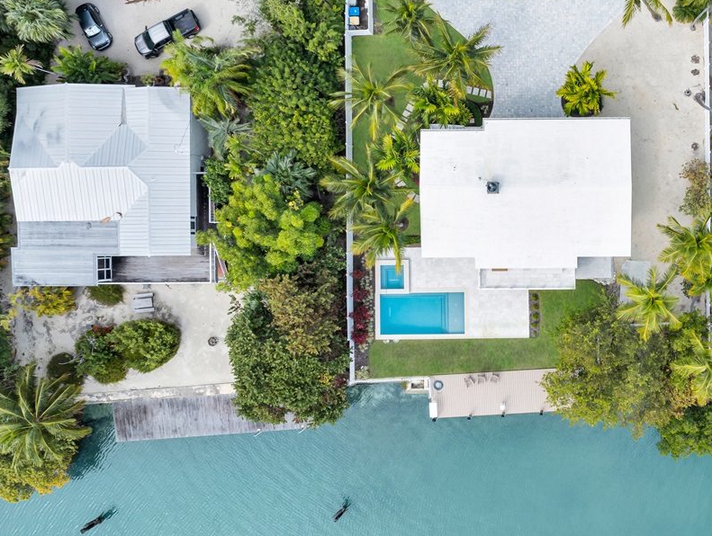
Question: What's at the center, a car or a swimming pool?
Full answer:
The feature located at the center is a swimming pool.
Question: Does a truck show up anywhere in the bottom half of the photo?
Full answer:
No, in the bottom half of the photo there is no truck.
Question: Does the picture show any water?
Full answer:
Yes, water shows up in the scene.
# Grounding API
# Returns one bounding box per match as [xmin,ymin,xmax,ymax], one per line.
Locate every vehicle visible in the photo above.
[132,3,203,58]
[70,1,112,52]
